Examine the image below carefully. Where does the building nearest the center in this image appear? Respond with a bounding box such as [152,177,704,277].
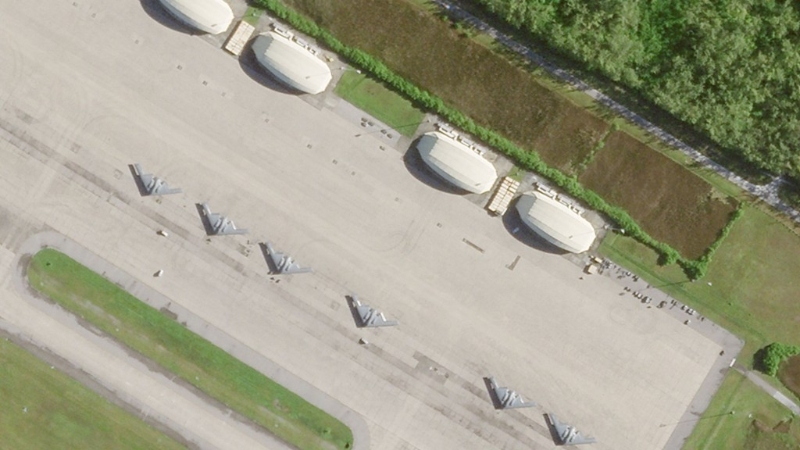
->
[415,134,493,196]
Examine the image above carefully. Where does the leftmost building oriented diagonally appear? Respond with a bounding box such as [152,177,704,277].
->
[248,31,328,95]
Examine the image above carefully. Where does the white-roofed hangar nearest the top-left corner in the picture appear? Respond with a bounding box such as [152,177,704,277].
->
[155,0,228,31]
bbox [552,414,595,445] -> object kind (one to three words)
airplane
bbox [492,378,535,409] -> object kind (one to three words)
airplane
